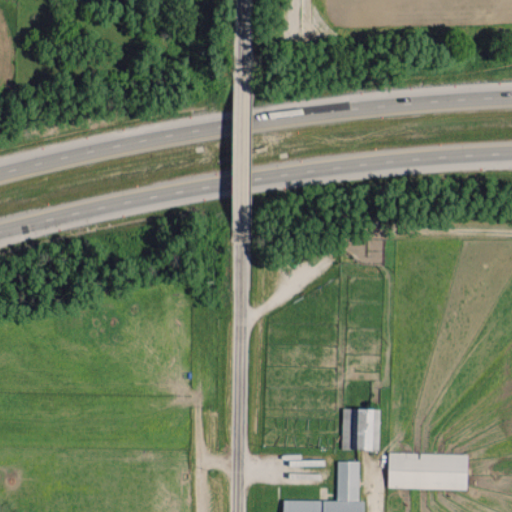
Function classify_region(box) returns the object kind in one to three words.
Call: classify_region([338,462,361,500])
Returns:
barn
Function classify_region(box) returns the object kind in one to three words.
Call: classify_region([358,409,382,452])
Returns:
barn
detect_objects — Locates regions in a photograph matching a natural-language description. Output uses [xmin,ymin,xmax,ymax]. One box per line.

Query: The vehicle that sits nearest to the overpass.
[256,109,305,121]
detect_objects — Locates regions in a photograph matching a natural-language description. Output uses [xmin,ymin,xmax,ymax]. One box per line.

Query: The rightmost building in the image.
[388,454,469,492]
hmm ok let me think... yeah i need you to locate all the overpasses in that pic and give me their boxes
[232,72,253,240]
